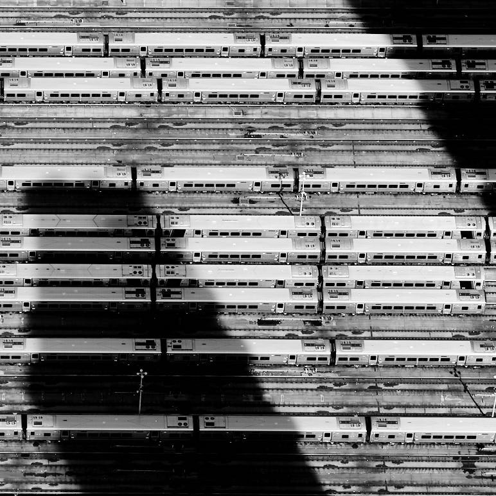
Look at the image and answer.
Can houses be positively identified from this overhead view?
No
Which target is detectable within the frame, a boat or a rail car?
rail car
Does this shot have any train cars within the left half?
Yes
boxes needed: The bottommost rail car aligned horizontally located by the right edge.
[366,415,496,445]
